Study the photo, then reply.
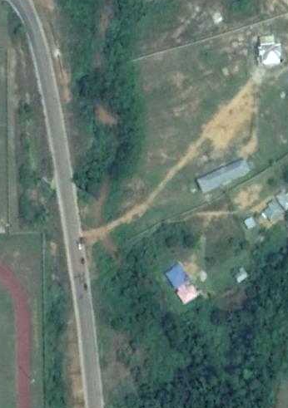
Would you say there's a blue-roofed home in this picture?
Yes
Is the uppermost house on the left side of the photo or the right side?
right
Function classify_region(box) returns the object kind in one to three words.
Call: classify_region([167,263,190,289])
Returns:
house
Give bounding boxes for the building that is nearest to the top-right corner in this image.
[259,36,282,68]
